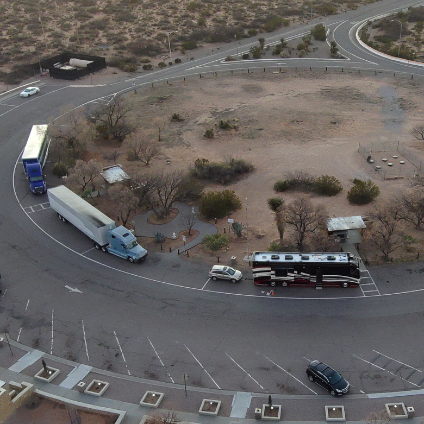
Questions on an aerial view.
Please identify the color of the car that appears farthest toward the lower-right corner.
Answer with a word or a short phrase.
black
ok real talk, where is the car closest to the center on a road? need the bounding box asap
[207,262,244,281]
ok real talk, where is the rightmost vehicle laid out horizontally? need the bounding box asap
[255,253,362,288]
